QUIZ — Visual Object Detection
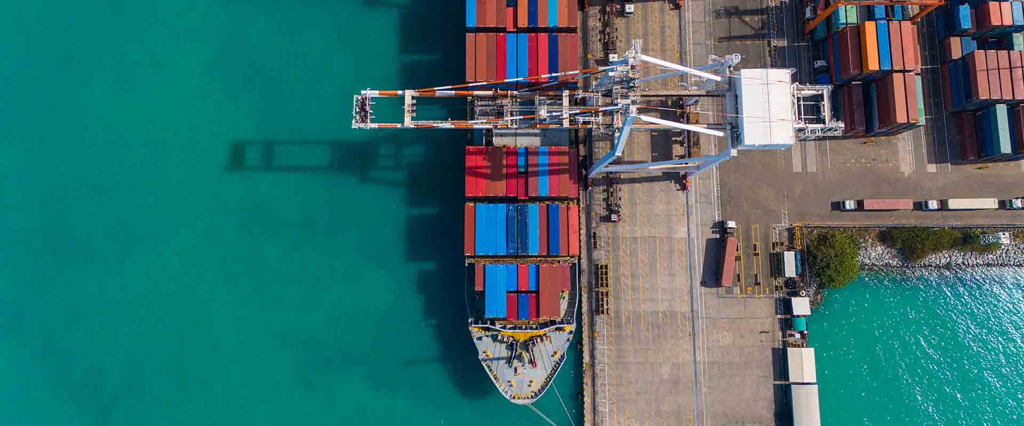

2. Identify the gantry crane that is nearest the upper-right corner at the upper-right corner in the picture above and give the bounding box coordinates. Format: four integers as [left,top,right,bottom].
[801,0,945,39]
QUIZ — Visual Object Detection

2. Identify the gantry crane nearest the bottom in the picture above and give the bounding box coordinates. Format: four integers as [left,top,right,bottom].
[349,35,847,191]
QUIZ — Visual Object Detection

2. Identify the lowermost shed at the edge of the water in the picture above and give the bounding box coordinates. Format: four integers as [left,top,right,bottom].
[786,384,821,426]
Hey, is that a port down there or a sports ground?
port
